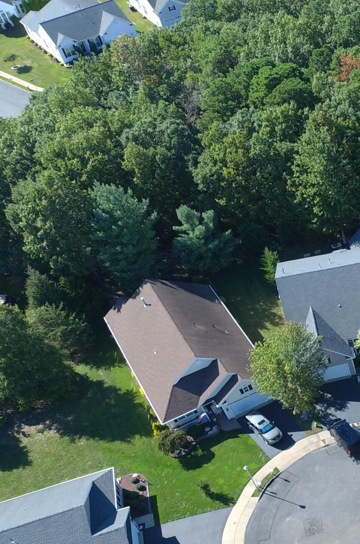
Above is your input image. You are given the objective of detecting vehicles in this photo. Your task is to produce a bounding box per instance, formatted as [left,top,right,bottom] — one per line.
[327,419,360,455]
[246,412,281,444]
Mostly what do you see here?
trees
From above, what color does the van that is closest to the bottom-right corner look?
black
